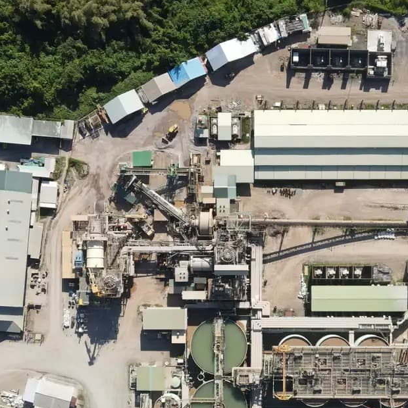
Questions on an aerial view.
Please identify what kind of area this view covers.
industrial area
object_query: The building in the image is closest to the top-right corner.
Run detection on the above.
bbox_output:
[366,31,393,52]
